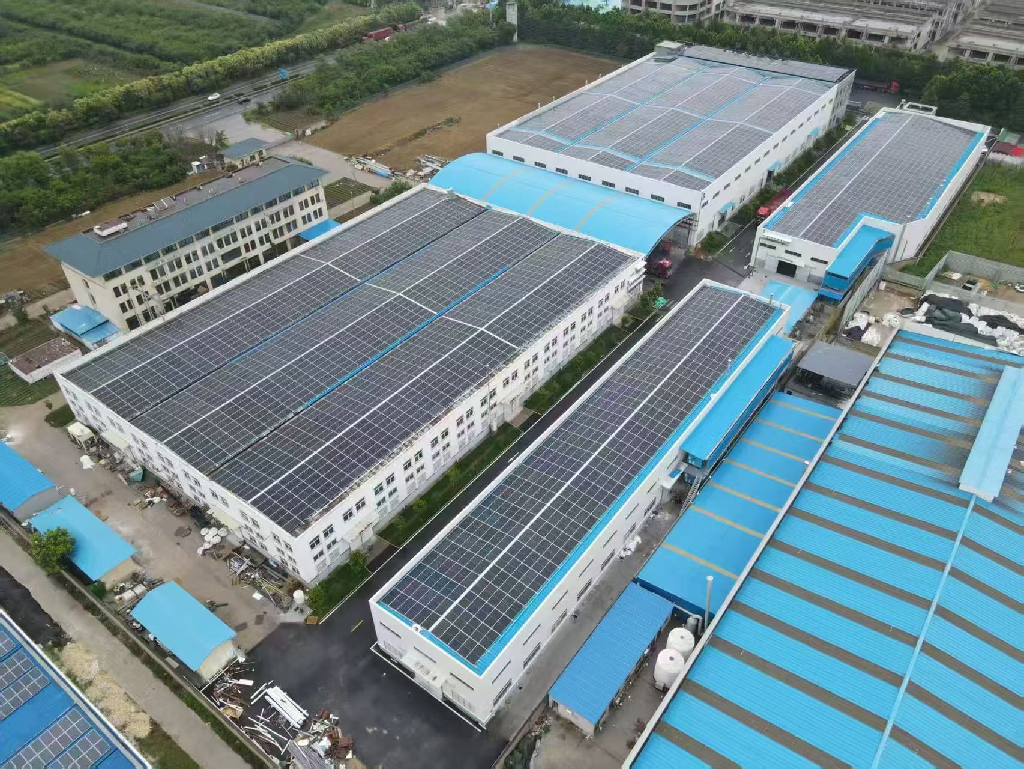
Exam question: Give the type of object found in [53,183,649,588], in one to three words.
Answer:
building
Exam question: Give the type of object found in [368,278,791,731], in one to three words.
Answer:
building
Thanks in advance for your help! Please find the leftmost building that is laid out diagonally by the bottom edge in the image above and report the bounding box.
[0,611,152,769]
